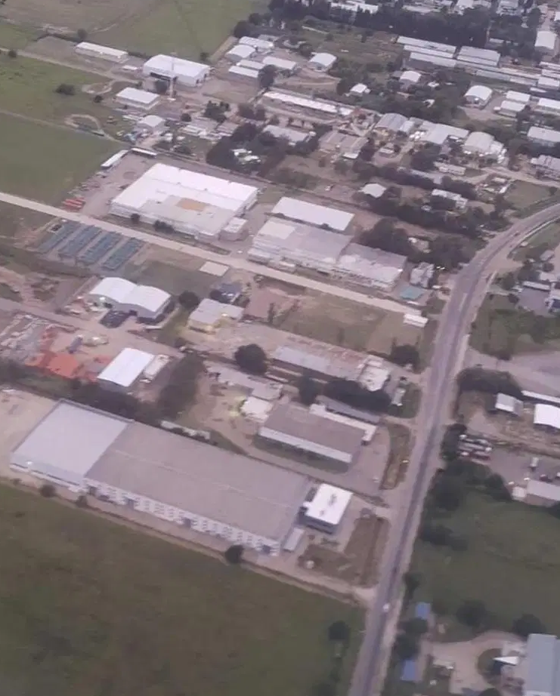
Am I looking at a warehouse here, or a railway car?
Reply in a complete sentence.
The image shows a warehouse.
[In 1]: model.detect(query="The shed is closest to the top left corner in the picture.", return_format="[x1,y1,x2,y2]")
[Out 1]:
[74,44,127,62]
